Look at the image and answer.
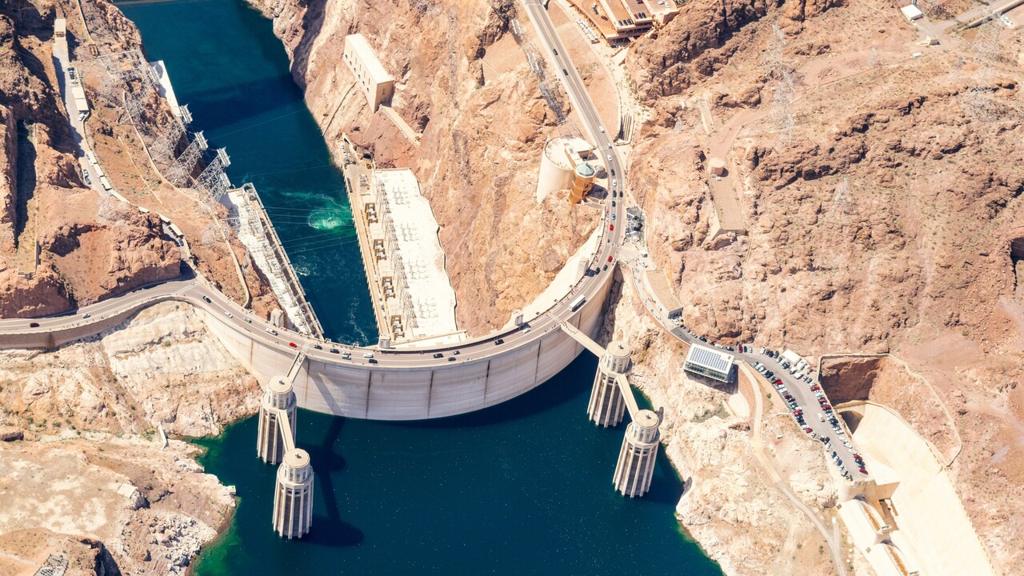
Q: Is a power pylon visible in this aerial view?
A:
Yes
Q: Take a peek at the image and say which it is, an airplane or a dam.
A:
dam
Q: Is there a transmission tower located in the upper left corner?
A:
Yes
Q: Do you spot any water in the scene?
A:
Yes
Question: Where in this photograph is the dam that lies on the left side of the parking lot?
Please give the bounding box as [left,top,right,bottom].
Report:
[194,245,621,422]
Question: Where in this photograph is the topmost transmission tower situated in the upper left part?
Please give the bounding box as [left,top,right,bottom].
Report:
[156,97,196,156]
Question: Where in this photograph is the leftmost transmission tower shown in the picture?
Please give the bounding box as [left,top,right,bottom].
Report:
[94,184,116,222]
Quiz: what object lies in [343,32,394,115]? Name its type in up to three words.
building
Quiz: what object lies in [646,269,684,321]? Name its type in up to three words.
building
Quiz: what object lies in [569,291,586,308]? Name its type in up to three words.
vehicle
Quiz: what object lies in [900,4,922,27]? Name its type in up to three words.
shed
